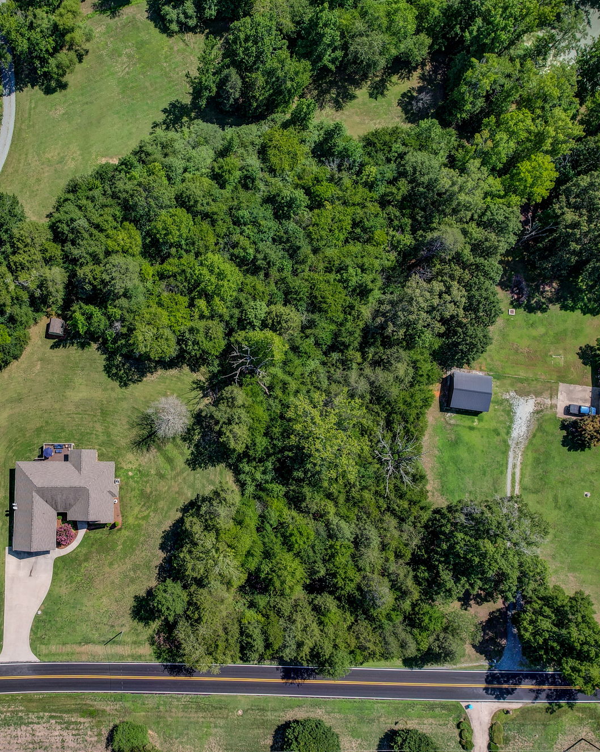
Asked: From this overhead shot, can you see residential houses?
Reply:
Yes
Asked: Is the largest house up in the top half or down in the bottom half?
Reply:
bottom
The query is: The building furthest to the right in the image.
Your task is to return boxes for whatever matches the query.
[448,372,492,412]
